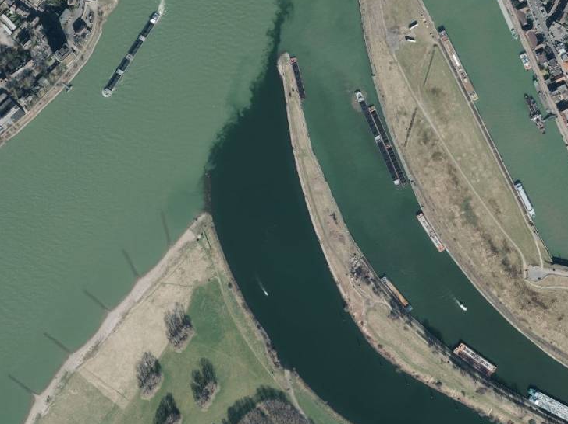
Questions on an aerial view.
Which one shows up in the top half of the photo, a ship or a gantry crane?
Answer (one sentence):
What appears in the top half of the photo is a ship.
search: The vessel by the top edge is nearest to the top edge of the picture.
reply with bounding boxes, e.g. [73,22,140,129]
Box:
[497,0,517,39]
